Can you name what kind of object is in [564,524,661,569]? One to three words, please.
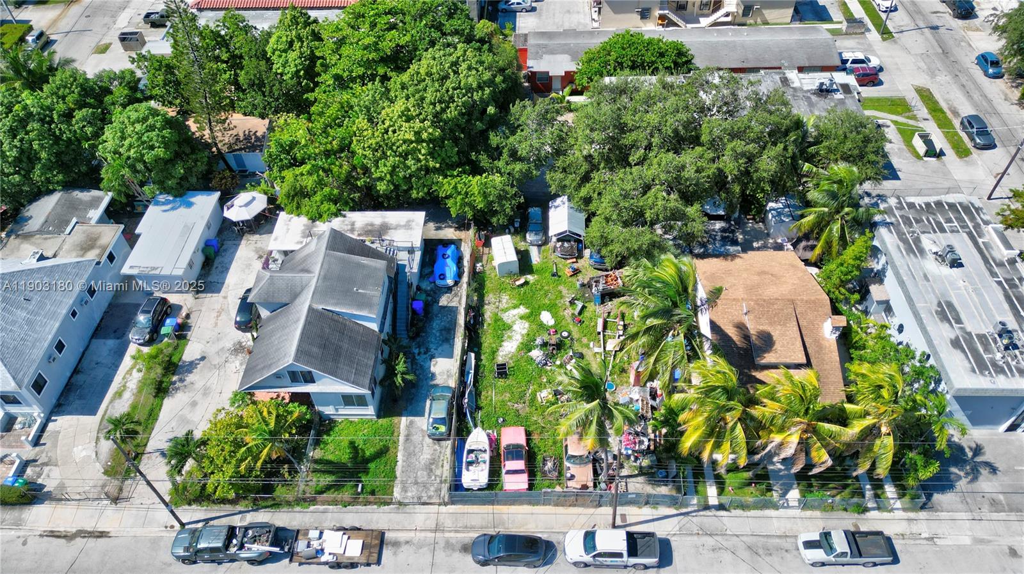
truck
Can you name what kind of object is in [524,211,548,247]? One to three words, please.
car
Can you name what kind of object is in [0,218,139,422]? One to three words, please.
house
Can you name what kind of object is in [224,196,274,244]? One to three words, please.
gazebo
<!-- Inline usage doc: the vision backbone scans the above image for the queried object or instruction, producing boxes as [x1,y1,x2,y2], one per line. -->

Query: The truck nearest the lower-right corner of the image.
[793,522,899,567]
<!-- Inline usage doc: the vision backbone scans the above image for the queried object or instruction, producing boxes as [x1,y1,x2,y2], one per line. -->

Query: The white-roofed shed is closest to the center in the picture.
[497,234,517,276]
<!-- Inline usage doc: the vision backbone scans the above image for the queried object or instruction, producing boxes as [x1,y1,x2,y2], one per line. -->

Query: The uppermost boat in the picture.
[460,354,475,416]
